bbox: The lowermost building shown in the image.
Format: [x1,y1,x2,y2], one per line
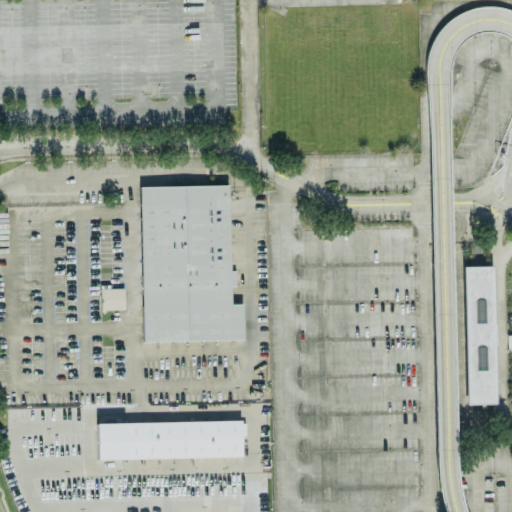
[98,421,247,460]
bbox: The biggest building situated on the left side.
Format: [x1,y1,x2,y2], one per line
[140,186,246,346]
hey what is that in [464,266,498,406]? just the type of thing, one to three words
building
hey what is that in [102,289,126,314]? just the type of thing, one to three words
shed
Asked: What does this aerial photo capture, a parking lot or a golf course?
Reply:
parking lot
